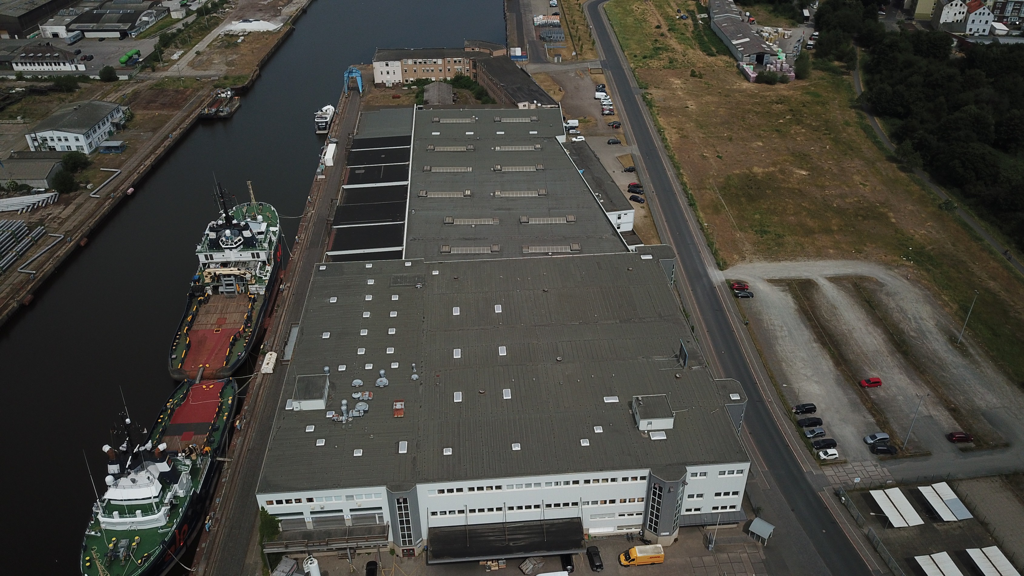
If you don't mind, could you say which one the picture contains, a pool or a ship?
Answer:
ship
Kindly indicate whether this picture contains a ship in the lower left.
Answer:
Yes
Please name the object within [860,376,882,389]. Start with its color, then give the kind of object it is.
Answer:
red vehicle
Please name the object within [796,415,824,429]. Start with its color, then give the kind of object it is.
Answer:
black car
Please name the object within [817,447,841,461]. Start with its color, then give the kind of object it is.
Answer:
white car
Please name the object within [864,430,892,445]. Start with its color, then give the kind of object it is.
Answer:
gray car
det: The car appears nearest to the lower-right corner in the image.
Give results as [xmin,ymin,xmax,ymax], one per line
[946,429,976,444]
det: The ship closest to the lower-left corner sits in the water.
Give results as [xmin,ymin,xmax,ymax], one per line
[78,378,240,576]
